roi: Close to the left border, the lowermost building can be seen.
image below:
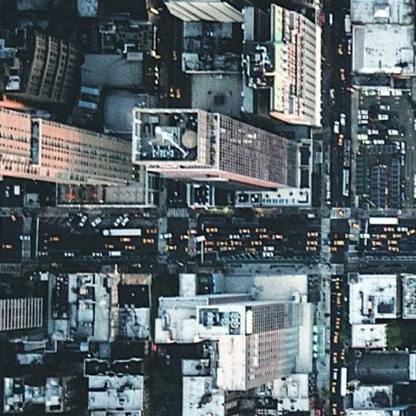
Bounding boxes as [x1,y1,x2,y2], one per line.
[2,373,79,414]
